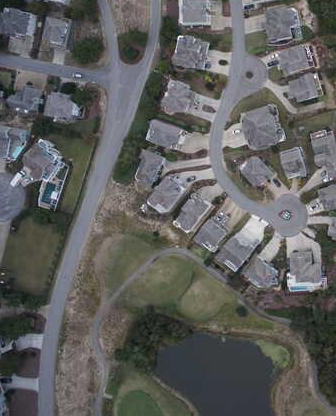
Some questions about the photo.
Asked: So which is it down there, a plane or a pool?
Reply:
pool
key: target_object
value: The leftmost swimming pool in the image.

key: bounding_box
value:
[10,139,27,159]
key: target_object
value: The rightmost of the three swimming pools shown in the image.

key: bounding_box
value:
[288,279,320,292]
